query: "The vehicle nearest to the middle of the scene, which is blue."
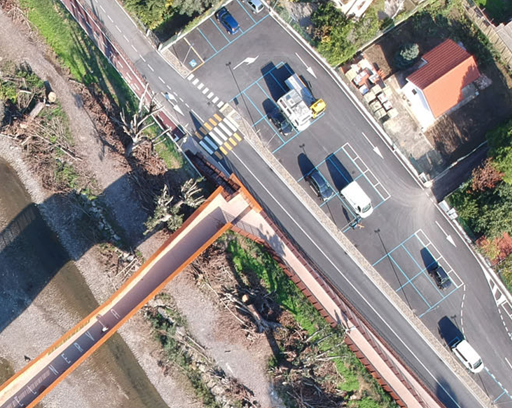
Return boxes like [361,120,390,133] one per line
[305,171,333,201]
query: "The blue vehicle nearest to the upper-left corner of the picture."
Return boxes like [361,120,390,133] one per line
[214,6,240,34]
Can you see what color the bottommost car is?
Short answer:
white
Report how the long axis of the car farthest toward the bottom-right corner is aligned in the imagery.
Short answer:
diagonally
